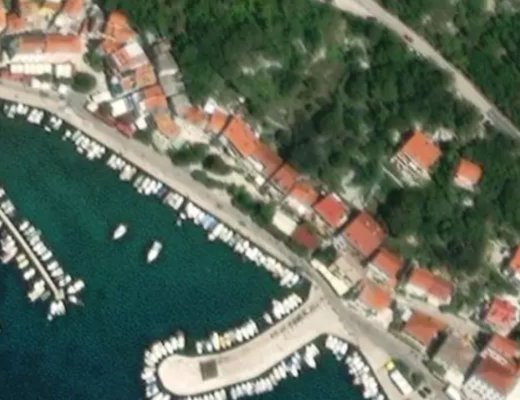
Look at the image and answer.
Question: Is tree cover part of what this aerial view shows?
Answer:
Yes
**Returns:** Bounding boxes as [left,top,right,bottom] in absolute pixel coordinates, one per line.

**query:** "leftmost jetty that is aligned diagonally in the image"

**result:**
[0,207,64,300]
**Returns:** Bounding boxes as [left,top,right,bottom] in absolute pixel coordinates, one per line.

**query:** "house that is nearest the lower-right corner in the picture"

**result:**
[479,357,520,399]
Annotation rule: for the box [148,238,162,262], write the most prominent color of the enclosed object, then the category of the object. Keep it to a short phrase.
white boat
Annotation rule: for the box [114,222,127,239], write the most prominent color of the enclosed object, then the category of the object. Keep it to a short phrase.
white boat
